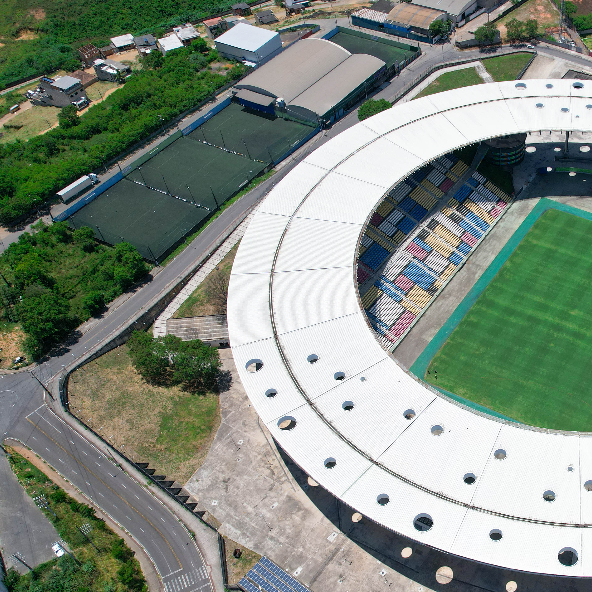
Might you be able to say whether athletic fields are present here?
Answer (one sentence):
Yes, this view includes an athletic field.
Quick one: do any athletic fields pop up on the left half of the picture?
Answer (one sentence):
Yes, you'll find an athletic field on the left half of the picture.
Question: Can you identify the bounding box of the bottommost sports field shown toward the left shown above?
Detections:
[60,177,212,261]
